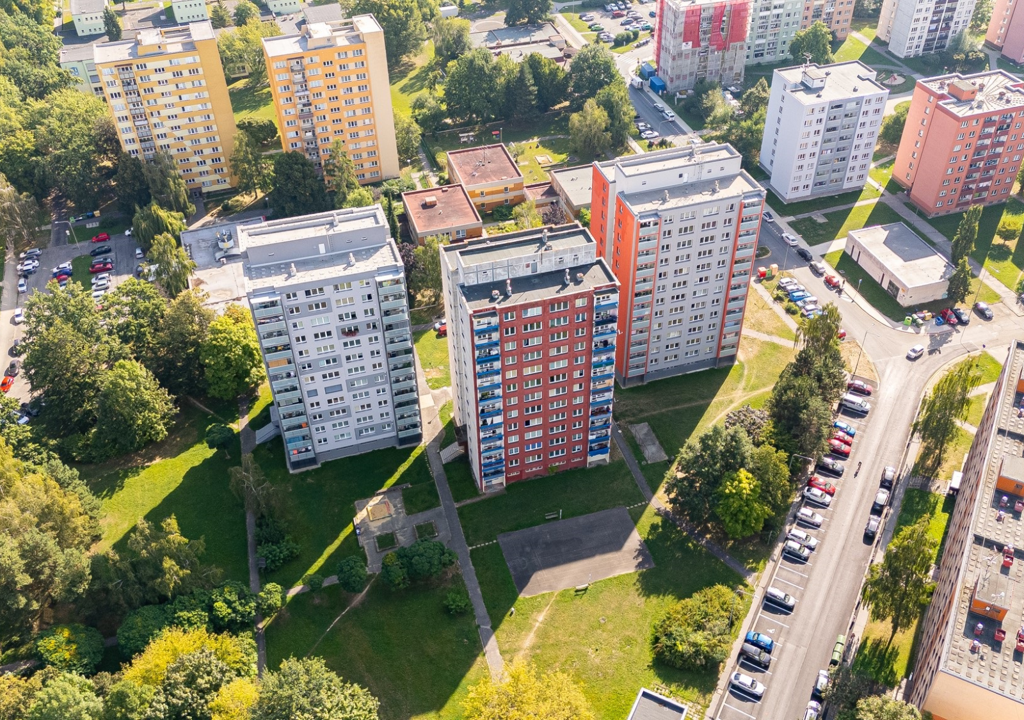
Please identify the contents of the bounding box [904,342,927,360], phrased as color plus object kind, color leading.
white car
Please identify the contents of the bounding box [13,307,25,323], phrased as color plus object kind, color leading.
white vehicle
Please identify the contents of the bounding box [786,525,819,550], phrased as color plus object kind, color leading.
white car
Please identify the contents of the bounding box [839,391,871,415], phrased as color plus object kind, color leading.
white vehicle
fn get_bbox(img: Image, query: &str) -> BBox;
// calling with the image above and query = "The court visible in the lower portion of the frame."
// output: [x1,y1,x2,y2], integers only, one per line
[497,506,655,597]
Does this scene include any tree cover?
Yes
